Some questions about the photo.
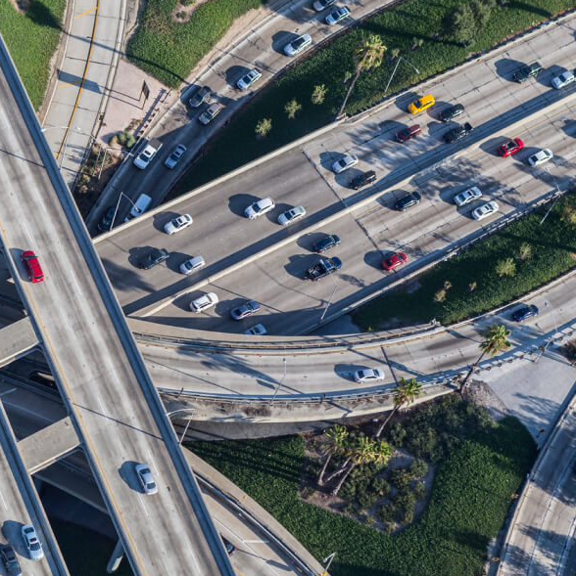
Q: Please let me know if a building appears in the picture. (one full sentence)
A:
No, there's no building here.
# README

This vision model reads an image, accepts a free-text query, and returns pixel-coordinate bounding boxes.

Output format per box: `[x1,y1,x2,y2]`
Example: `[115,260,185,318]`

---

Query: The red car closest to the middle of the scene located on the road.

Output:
[379,251,408,272]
